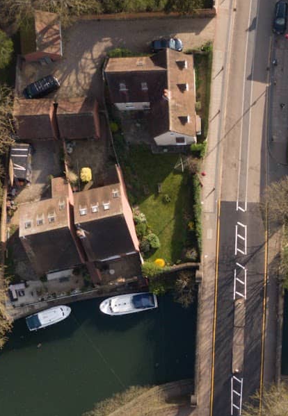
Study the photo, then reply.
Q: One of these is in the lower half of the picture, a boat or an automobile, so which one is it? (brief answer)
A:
boat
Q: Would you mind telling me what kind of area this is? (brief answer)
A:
residential area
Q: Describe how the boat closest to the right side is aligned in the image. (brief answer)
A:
from left to right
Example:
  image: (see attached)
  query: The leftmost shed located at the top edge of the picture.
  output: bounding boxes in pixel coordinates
[20,7,65,59]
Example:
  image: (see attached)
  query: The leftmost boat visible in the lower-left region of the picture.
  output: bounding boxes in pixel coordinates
[24,307,72,332]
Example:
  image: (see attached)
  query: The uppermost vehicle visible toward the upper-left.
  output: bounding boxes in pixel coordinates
[23,75,60,100]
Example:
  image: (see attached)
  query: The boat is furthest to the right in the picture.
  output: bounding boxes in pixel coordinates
[99,292,161,315]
